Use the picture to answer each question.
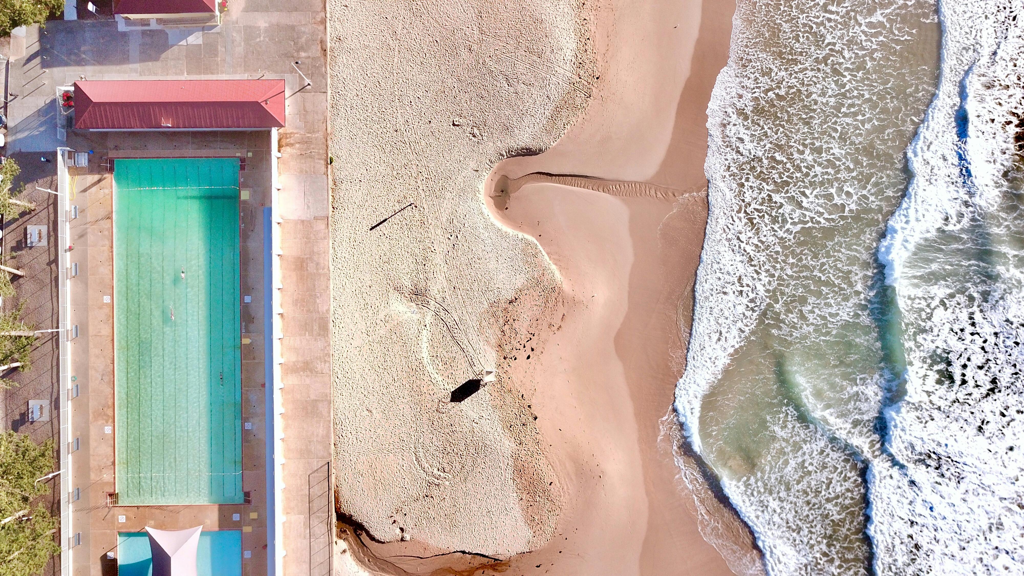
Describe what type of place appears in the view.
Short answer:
beach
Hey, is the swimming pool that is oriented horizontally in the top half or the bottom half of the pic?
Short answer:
bottom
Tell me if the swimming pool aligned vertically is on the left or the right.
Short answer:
left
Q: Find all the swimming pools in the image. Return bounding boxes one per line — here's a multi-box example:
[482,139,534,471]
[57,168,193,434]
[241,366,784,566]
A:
[120,528,244,576]
[104,156,253,507]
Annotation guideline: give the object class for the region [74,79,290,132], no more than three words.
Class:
building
